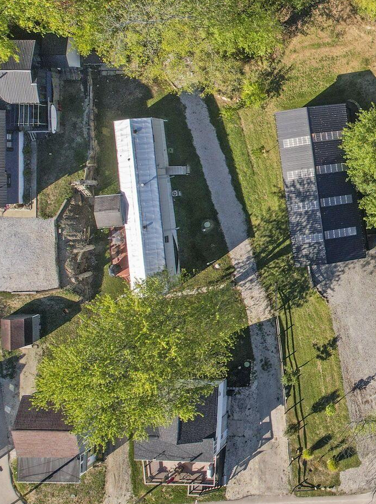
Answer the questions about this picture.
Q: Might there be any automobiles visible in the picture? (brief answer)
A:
No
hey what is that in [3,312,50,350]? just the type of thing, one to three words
shed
